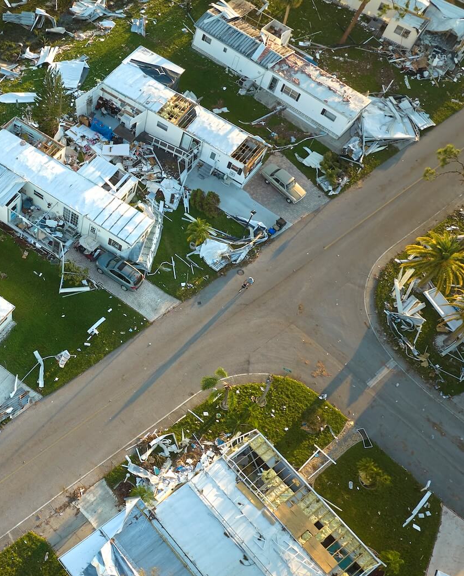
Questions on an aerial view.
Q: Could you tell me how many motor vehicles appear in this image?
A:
three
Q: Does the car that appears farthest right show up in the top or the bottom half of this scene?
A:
top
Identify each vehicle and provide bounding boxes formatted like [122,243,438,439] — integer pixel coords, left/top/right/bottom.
[78,232,106,259]
[90,251,147,292]
[258,164,308,206]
